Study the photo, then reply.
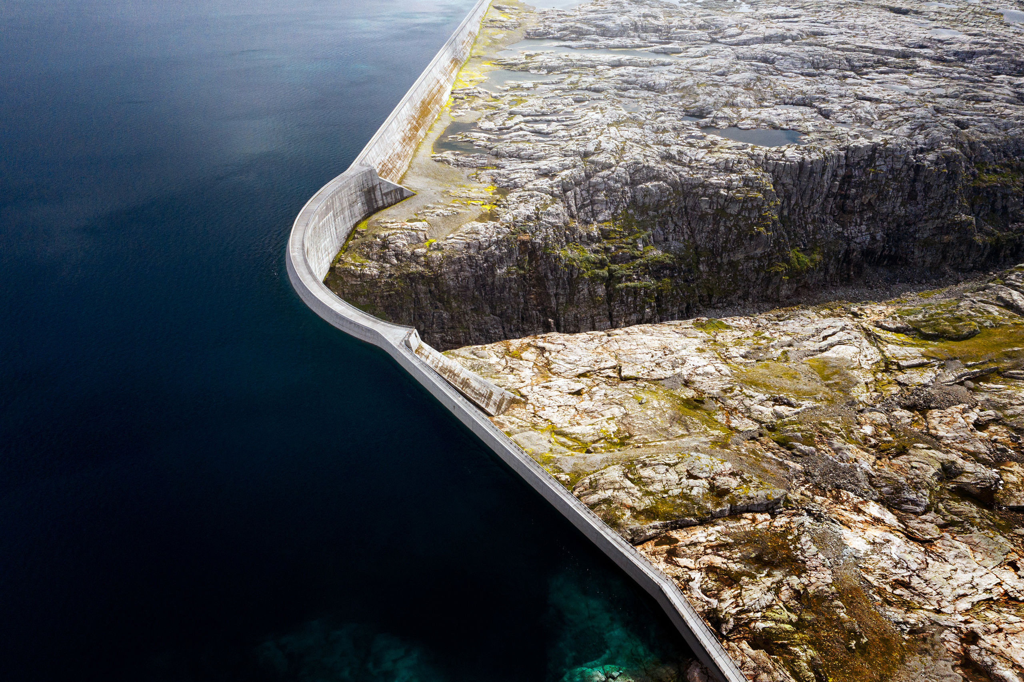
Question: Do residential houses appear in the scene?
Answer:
No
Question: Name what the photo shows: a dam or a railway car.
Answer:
dam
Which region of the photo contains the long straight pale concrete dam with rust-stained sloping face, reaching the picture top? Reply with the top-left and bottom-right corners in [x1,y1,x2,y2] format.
[357,0,493,179]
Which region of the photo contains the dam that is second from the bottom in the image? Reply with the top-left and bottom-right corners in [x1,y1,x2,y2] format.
[286,161,518,449]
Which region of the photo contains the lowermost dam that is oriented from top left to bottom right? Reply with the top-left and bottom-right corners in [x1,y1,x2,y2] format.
[392,340,746,682]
